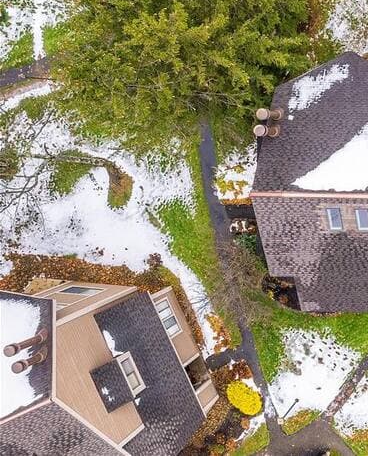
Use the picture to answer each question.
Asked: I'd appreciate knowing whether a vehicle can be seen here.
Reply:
No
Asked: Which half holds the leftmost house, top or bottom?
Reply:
bottom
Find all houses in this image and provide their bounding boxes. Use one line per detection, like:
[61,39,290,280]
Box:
[0,280,222,456]
[251,52,368,312]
